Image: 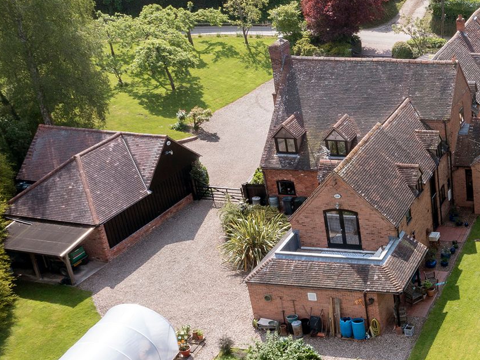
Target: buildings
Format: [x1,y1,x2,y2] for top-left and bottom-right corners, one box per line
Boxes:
[238,37,480,334]
[2,122,203,286]
[59,310,177,360]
